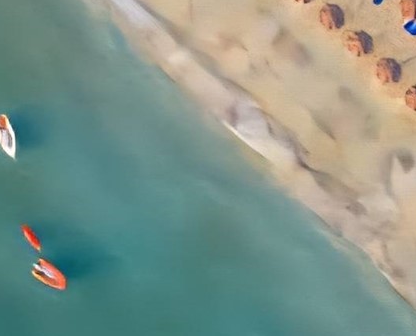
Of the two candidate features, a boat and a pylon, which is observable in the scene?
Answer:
boat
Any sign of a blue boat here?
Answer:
No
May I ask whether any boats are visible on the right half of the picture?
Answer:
No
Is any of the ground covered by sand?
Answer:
Yes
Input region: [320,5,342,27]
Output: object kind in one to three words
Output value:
umbrella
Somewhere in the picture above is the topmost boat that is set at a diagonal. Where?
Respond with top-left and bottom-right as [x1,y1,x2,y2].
[22,223,41,251]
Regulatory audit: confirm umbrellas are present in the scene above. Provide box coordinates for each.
[375,58,399,82]
[346,30,369,55]
[401,0,416,17]
[404,86,416,109]
[320,5,342,27]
